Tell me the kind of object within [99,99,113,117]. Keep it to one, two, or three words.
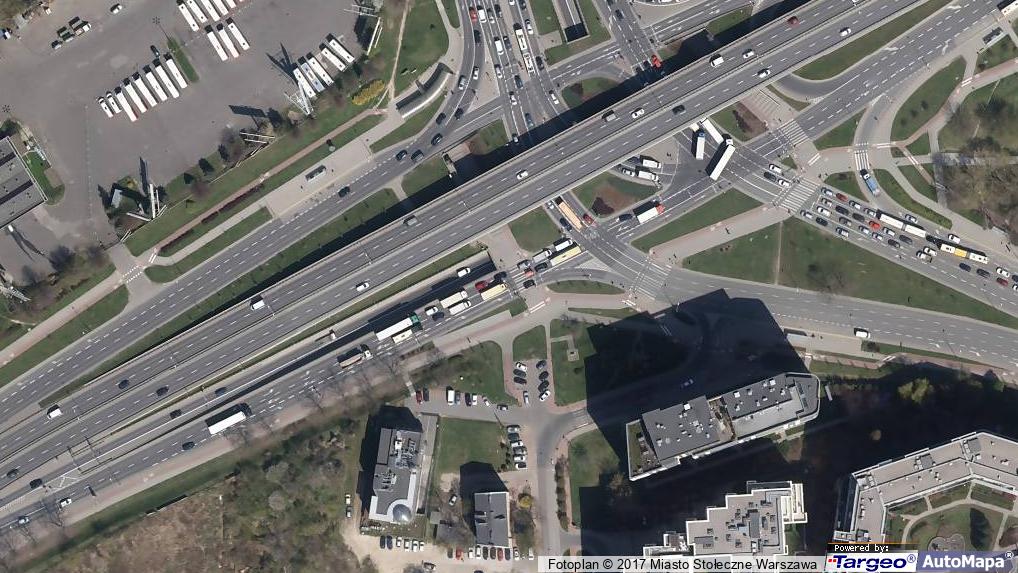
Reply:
vehicle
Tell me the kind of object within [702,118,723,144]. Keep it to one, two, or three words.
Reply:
bus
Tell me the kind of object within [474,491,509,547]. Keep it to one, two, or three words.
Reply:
house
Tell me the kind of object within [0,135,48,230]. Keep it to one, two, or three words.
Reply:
building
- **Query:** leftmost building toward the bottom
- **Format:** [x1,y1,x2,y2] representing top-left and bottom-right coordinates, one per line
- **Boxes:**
[369,429,422,528]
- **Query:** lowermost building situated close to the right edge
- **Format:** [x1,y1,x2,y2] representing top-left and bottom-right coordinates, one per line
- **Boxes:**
[828,433,1018,573]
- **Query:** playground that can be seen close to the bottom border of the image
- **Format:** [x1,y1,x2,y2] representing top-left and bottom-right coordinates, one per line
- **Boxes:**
[930,535,965,573]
